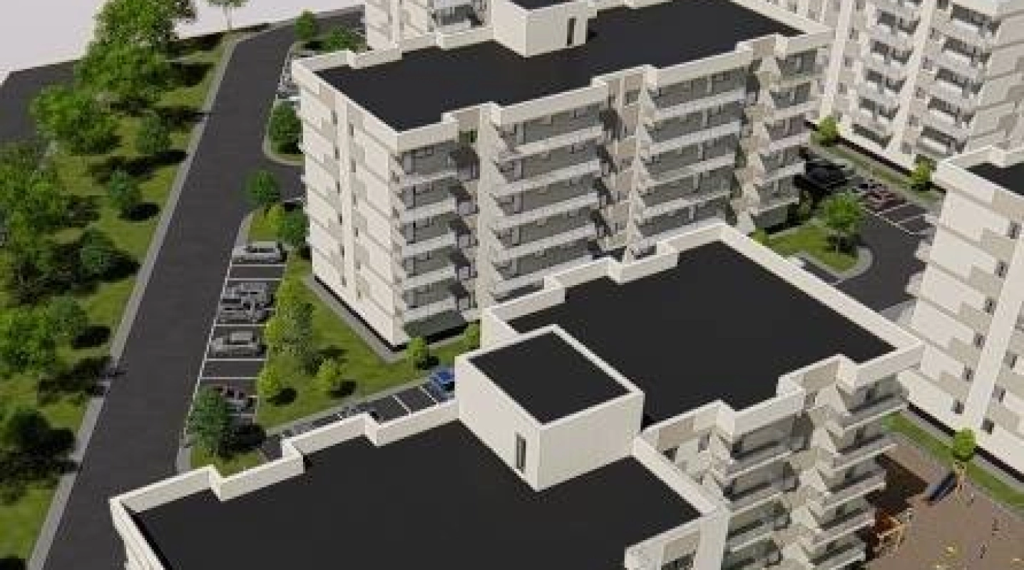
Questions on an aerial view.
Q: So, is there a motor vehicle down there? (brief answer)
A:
Yes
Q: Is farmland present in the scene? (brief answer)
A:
No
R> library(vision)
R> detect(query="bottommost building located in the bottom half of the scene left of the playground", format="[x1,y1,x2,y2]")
[109,222,926,570]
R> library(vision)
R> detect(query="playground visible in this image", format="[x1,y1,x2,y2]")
[850,442,1024,570]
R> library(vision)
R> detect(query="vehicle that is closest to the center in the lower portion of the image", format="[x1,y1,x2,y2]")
[427,374,460,404]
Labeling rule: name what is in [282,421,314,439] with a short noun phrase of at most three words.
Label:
car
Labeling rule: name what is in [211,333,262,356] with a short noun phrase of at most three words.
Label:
car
